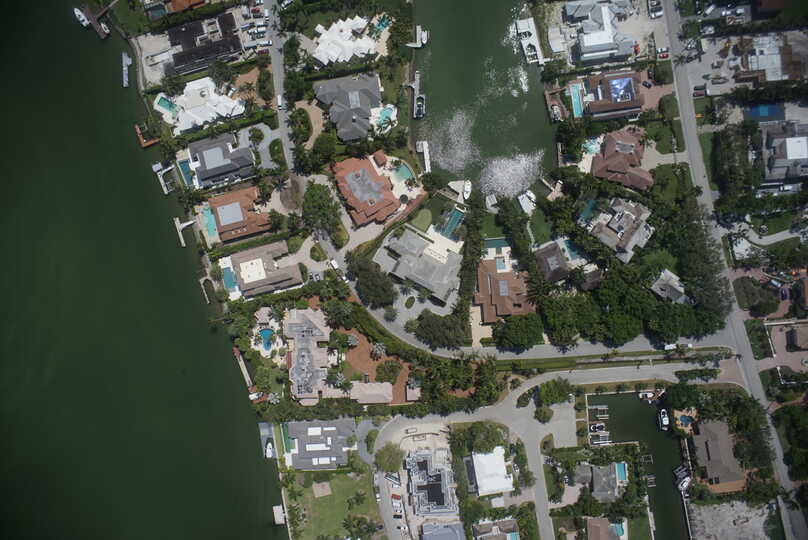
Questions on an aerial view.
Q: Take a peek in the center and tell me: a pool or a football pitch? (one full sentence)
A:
You can see a pool in the center.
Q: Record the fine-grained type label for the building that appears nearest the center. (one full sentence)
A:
It looks like the building that appears nearest the center is a residential house.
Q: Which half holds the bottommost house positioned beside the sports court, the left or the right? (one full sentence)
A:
It is on the right.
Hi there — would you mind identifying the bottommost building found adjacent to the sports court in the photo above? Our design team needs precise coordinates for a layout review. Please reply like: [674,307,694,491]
[759,124,808,186]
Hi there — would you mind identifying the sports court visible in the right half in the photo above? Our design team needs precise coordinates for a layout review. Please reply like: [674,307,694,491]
[744,104,785,121]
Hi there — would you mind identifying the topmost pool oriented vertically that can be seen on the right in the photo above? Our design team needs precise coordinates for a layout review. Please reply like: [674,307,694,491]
[570,83,583,118]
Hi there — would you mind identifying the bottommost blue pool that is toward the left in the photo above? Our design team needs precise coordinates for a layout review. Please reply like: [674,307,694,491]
[260,328,275,352]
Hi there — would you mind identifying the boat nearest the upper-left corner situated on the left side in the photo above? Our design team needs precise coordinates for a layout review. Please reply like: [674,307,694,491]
[74,9,89,28]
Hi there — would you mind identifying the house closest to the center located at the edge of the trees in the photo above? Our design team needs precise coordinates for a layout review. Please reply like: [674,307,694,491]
[381,227,473,313]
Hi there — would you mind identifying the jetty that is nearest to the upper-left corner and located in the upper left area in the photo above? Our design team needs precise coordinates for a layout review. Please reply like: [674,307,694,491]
[82,0,118,38]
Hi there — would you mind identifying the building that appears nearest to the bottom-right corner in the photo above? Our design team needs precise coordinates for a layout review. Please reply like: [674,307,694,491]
[691,418,743,487]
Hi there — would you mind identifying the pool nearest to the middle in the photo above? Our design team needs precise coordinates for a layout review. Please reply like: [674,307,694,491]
[440,208,465,238]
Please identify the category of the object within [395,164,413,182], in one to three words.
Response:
swimming pool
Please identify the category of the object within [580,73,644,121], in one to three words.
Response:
house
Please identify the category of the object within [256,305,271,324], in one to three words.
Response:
gazebo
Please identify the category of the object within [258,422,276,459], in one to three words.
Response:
pier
